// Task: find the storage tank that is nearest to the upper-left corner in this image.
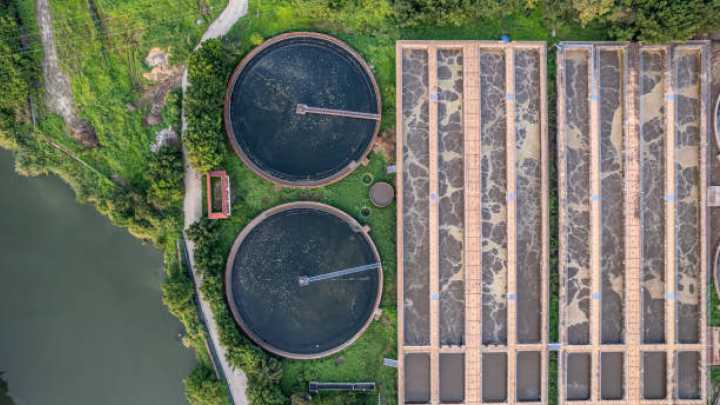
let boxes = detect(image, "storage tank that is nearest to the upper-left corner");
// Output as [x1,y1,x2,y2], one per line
[225,32,382,188]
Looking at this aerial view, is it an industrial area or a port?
industrial area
